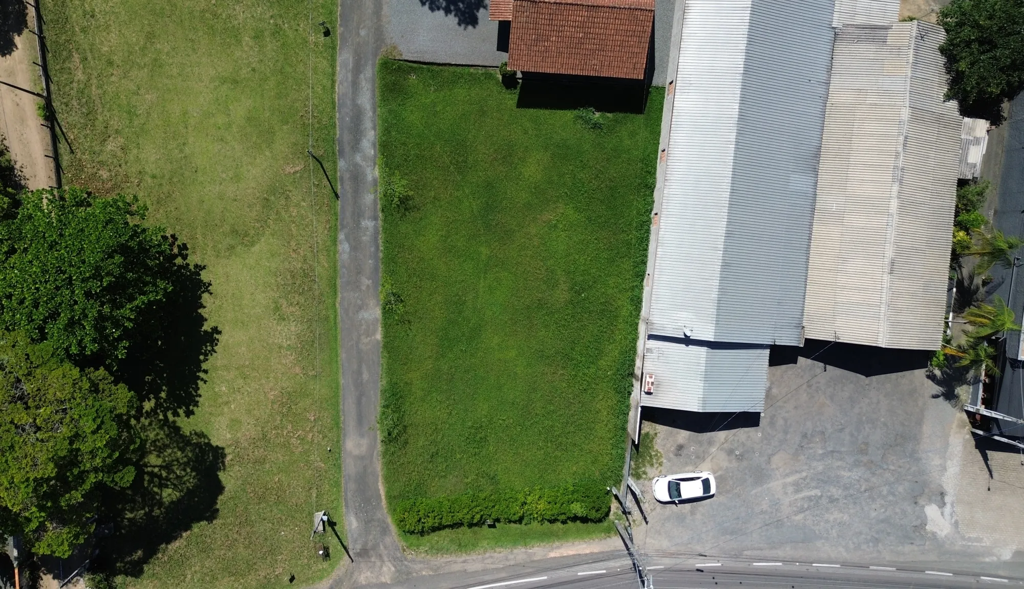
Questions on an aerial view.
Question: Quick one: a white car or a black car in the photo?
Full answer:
Visible in the photo is a white car.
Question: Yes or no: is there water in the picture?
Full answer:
No, there's no water in this view.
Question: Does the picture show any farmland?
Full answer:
No, there's no farmland in this view.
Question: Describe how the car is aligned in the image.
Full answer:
Seen from above, the car lies from side to side.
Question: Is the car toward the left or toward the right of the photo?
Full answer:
You can find the car on the right side of the picture.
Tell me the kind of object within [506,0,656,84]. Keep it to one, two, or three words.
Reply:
house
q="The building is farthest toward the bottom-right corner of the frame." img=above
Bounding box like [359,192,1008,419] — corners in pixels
[970,358,1024,437]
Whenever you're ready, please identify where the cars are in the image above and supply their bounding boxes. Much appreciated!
[652,471,716,504]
